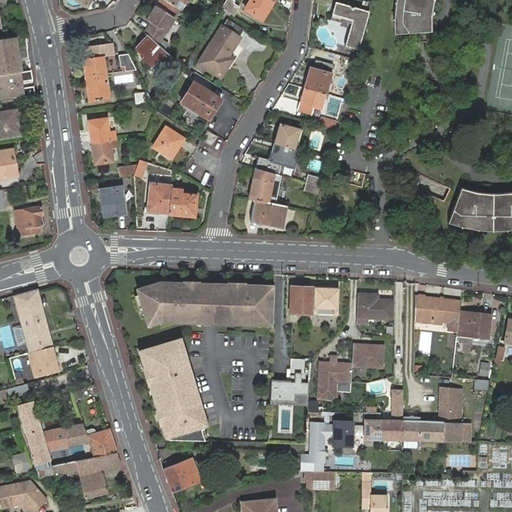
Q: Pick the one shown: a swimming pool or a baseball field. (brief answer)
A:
swimming pool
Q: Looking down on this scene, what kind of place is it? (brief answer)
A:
residential area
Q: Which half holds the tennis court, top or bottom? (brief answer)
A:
top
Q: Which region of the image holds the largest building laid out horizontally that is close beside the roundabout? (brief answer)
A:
center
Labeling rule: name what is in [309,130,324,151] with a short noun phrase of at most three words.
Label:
swimming pool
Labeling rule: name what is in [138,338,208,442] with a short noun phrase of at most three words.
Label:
building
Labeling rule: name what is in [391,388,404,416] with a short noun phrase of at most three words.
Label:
shed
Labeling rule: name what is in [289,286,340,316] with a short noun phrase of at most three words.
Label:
house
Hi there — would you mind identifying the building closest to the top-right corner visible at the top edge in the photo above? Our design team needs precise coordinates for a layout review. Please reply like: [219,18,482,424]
[394,0,436,36]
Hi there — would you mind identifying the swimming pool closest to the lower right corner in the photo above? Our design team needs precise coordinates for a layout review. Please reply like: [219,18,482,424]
[446,454,476,468]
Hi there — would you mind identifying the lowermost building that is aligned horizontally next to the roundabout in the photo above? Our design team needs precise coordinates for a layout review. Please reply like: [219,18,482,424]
[135,282,276,329]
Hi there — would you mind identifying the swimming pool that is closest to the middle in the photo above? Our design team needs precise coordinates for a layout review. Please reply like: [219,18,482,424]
[306,158,322,173]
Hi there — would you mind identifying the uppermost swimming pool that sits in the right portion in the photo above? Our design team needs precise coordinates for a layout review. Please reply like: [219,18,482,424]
[316,26,338,48]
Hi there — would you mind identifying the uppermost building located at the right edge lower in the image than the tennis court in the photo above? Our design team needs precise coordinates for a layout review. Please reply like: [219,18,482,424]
[448,190,512,234]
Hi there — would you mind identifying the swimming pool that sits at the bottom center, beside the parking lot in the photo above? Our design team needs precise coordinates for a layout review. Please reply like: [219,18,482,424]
[278,405,294,434]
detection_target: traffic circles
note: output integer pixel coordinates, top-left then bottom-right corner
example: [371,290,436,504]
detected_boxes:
[47,215,118,301]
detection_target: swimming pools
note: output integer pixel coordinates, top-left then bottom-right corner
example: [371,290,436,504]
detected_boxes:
[334,456,355,466]
[0,324,16,350]
[68,445,85,456]
[278,405,294,434]
[373,479,392,490]
[12,358,23,372]
[504,346,512,358]
[322,94,344,120]
[309,130,324,151]
[316,26,338,48]
[306,158,322,173]
[446,454,476,468]
[366,379,388,396]
[65,0,82,8]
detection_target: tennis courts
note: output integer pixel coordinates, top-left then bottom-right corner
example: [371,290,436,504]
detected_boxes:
[485,23,512,111]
